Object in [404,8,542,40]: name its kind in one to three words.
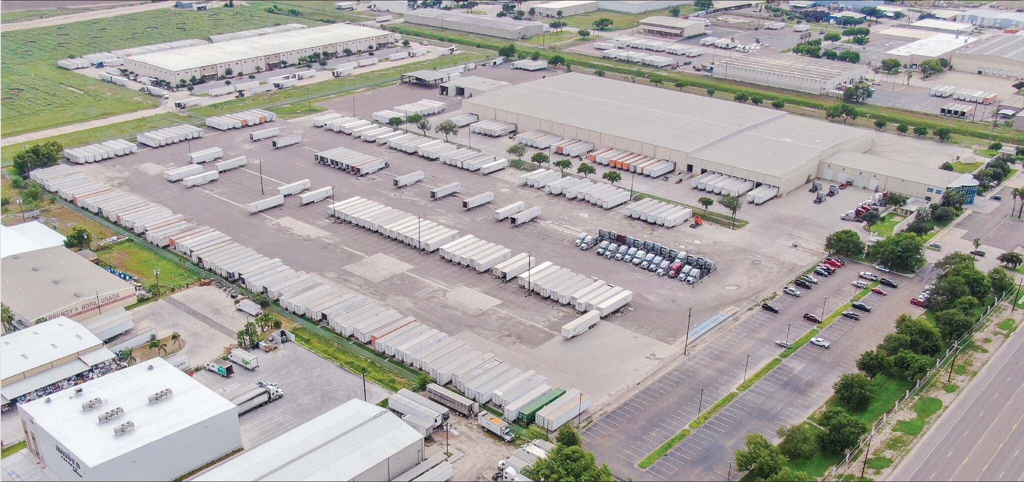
building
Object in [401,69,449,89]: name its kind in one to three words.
shed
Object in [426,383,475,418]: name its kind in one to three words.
trailer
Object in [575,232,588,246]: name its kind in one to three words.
vehicle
